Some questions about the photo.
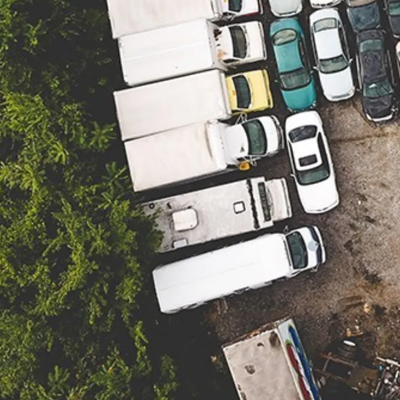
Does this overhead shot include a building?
No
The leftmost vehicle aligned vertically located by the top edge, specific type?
car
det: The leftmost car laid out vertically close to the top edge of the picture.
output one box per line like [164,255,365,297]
[268,15,320,113]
